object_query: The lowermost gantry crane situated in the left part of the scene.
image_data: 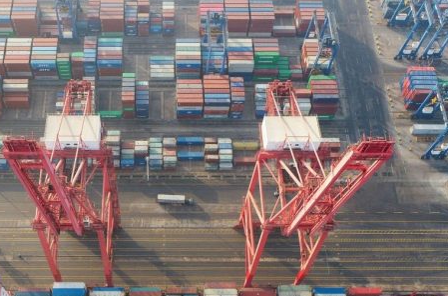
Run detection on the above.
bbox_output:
[0,76,129,291]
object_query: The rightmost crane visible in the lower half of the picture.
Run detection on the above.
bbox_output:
[225,76,410,291]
